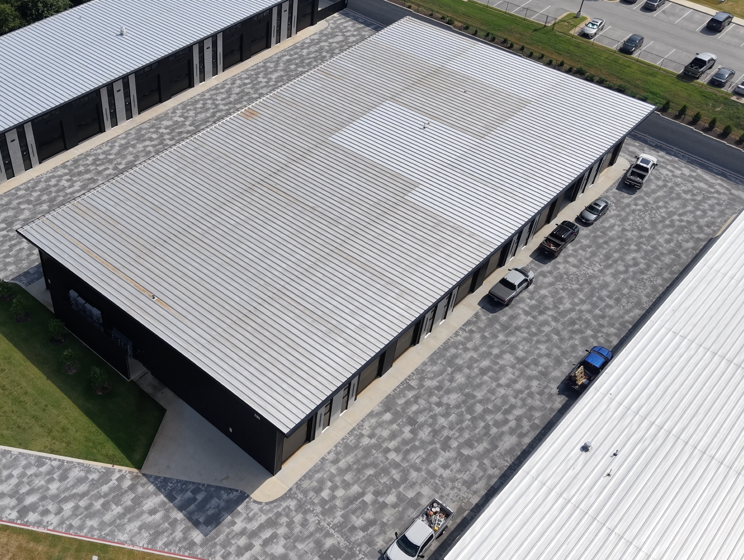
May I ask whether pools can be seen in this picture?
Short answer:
No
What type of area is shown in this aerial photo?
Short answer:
industrial area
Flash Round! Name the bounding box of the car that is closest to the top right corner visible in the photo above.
[705,10,734,32]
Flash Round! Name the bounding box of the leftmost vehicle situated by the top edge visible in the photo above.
[579,18,605,36]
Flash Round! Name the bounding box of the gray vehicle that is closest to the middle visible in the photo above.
[485,263,543,313]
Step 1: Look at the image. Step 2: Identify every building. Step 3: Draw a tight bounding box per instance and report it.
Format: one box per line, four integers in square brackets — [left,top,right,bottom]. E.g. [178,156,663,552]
[0,0,320,184]
[15,17,657,477]
[432,207,744,560]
